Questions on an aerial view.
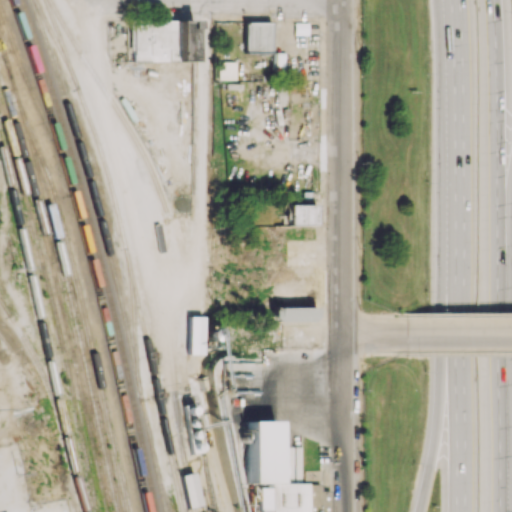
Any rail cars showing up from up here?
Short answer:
Yes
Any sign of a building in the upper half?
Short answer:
Yes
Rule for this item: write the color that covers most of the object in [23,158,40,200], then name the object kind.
gray rail car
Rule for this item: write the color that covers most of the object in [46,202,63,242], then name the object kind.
white rail car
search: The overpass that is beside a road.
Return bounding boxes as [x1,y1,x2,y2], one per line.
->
[402,314,512,352]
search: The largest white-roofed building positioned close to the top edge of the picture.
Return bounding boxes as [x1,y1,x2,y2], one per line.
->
[135,20,181,62]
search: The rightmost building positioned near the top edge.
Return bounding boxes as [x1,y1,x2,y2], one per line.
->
[244,22,276,54]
